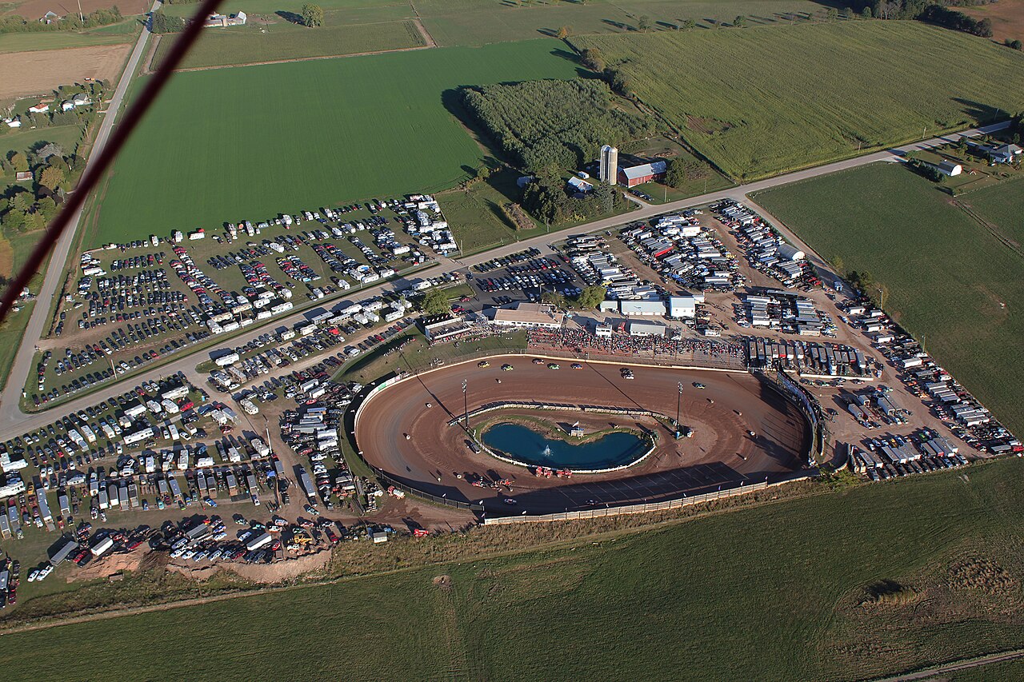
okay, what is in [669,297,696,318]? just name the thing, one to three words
building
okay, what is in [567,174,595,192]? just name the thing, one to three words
house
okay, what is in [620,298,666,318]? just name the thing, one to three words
shed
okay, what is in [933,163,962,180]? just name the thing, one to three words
barn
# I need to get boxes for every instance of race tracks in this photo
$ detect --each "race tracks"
[354,354,813,522]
